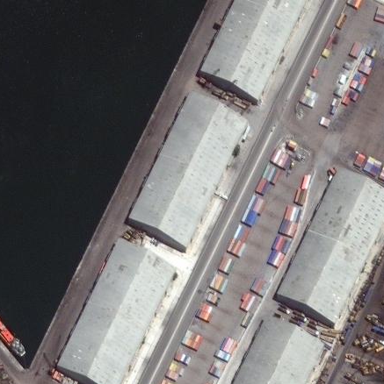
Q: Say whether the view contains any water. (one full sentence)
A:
Yes, the picture does contain water.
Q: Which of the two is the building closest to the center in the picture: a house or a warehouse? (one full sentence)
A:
I'd say the building closest to the center is a warehouse.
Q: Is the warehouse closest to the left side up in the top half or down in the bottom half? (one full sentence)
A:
The bottom half of the photo is where the warehouse closest to the left side is.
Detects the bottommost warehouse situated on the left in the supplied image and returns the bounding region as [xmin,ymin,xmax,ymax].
[57,239,177,384]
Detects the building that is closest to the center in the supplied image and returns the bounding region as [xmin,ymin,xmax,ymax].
[128,93,248,252]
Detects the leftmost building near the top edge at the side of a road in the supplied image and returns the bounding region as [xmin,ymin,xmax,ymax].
[201,0,306,104]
